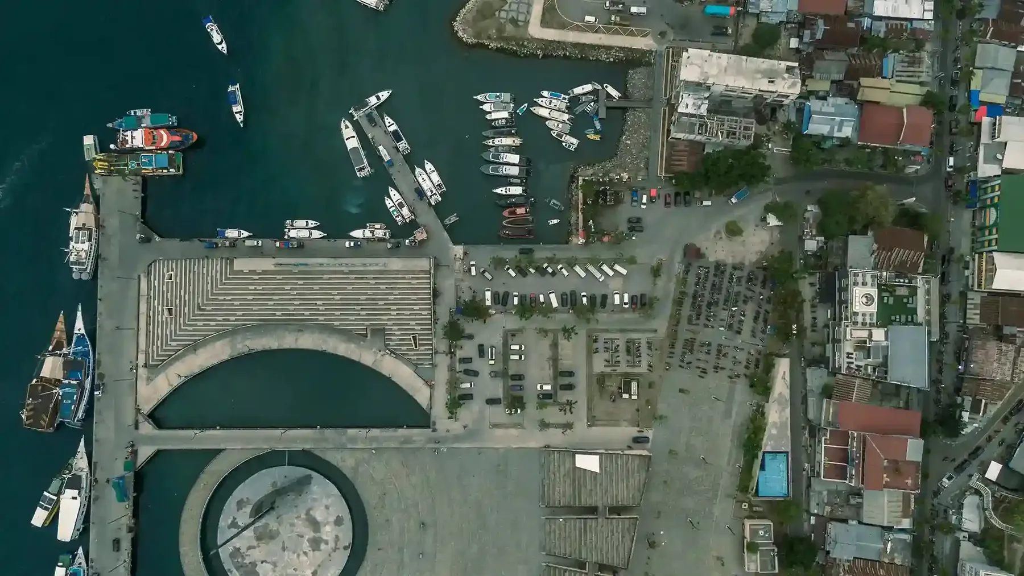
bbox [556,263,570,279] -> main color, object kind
white vehicle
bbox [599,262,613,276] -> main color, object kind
white vehicle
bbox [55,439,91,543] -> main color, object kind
white vessel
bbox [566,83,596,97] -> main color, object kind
white boat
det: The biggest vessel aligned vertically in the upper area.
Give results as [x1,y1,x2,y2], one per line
[65,173,101,280]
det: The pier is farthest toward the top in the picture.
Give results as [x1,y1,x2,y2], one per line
[598,89,652,119]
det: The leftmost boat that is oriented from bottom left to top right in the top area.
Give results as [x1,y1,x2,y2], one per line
[349,89,392,119]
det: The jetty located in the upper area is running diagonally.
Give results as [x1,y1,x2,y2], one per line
[353,108,455,249]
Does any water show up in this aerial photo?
Yes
